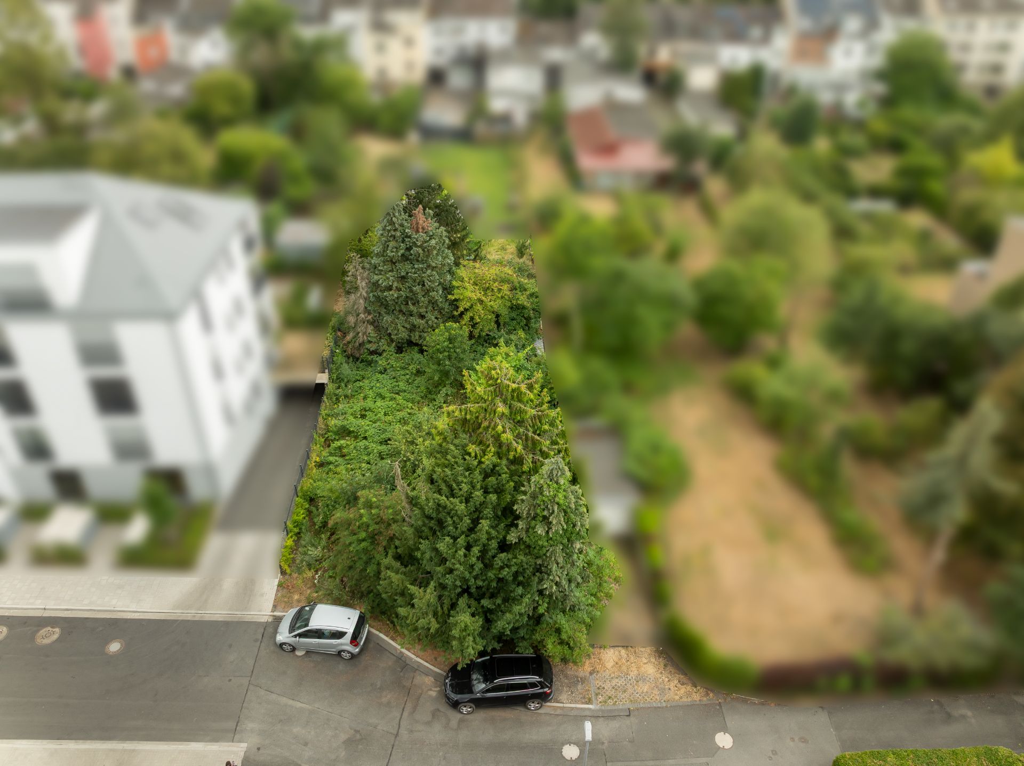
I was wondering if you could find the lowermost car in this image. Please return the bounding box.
[445,655,555,715]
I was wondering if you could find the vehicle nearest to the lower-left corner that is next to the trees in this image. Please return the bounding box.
[271,603,366,660]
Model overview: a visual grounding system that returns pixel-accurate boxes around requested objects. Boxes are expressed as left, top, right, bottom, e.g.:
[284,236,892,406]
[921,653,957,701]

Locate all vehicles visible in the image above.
[271,603,366,660]
[445,655,555,715]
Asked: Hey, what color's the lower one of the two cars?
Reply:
black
